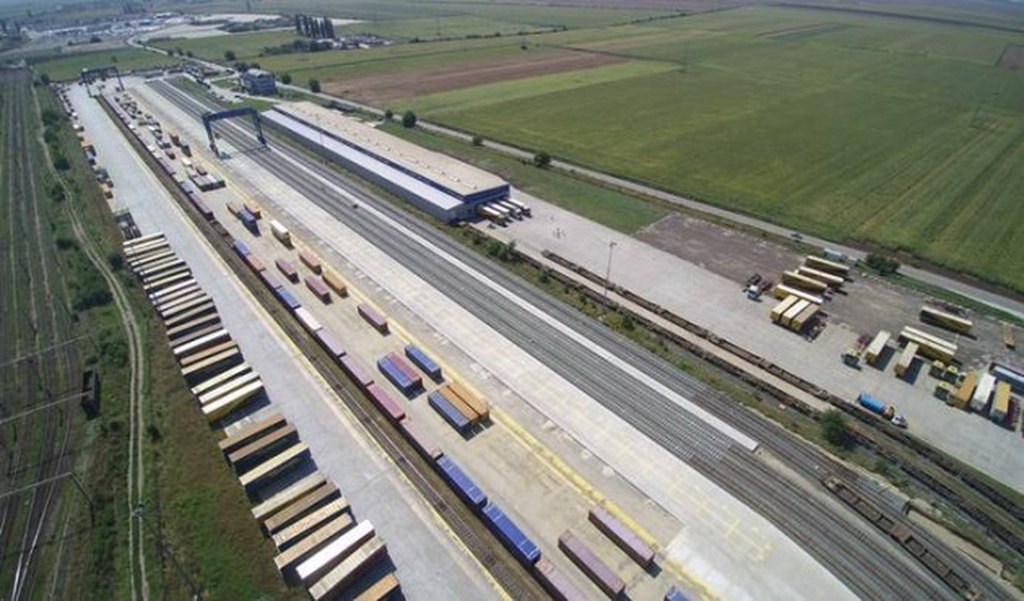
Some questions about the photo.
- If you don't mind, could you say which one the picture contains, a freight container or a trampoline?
freight container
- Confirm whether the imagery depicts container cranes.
Yes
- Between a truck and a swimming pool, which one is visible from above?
truck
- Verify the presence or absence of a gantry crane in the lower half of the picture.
No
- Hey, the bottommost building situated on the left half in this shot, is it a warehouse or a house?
warehouse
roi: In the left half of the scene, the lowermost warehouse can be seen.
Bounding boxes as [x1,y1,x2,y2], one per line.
[263,99,507,220]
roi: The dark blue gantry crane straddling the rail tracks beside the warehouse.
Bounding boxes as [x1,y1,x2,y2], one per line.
[198,106,269,157]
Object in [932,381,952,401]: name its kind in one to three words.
vehicle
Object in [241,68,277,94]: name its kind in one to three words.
building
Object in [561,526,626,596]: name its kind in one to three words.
shipping container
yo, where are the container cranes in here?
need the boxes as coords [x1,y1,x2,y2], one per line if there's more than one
[80,66,128,96]
[198,106,269,157]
